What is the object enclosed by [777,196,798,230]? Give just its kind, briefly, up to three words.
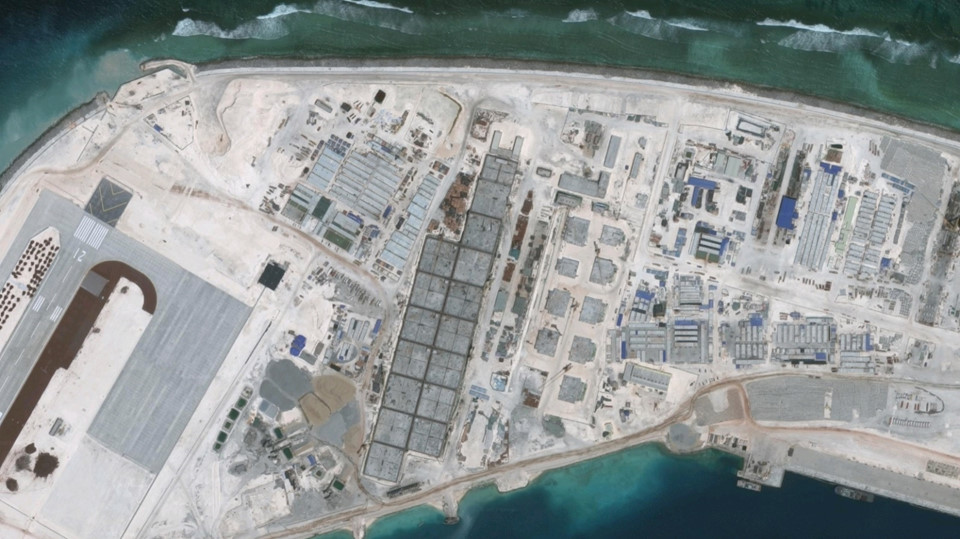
building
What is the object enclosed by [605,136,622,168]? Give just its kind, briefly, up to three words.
building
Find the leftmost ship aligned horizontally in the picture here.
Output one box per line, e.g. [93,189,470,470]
[736,479,761,491]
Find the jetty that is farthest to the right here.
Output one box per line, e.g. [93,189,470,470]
[443,494,460,526]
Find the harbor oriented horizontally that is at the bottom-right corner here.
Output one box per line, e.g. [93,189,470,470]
[737,442,960,517]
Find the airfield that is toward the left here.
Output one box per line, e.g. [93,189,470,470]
[0,176,271,539]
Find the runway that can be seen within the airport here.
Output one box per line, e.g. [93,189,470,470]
[0,211,114,421]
